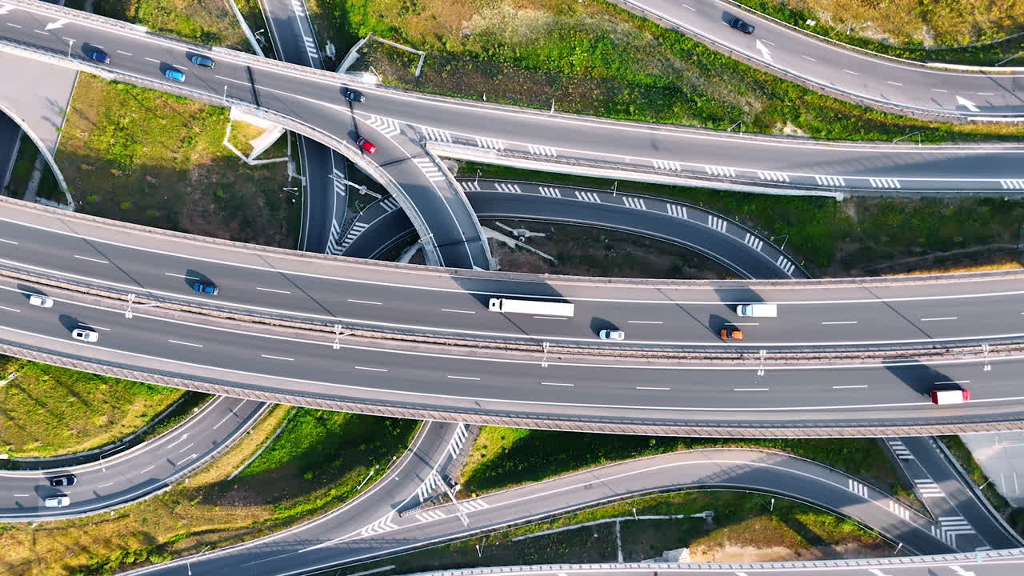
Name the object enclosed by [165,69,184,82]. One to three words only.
vehicle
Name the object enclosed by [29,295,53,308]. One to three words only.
vehicle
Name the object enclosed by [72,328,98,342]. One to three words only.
car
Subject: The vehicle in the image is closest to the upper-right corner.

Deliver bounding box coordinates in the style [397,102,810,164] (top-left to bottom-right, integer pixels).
[730,18,754,35]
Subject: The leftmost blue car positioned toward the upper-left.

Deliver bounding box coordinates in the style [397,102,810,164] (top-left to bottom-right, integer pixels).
[89,50,110,64]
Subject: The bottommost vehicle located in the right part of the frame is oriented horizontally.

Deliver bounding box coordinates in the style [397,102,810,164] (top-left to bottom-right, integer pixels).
[926,390,971,406]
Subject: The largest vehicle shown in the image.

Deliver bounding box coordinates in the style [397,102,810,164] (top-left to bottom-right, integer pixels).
[488,298,575,317]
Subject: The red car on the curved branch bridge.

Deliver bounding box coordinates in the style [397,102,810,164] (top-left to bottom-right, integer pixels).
[357,138,376,154]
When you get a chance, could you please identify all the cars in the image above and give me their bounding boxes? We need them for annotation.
[600,329,624,340]
[72,328,98,342]
[29,295,53,308]
[345,90,365,102]
[357,138,376,154]
[730,18,754,35]
[193,282,218,294]
[46,496,69,507]
[52,475,75,486]
[720,328,743,340]
[165,69,184,82]
[89,50,110,64]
